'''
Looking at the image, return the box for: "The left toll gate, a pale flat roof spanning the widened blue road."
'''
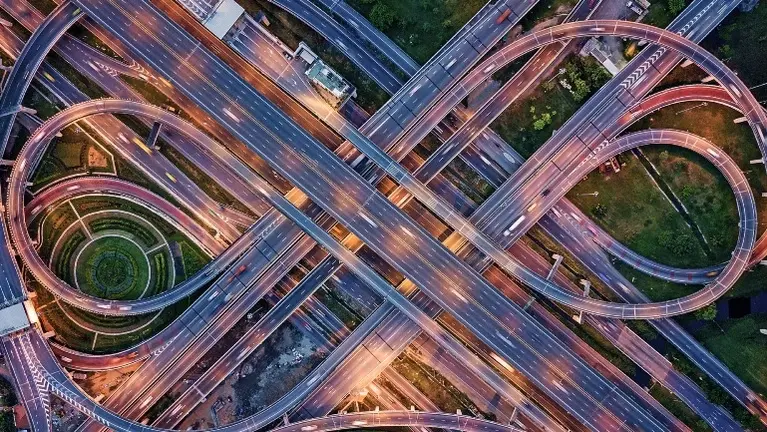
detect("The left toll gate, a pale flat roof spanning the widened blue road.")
[0,288,45,350]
